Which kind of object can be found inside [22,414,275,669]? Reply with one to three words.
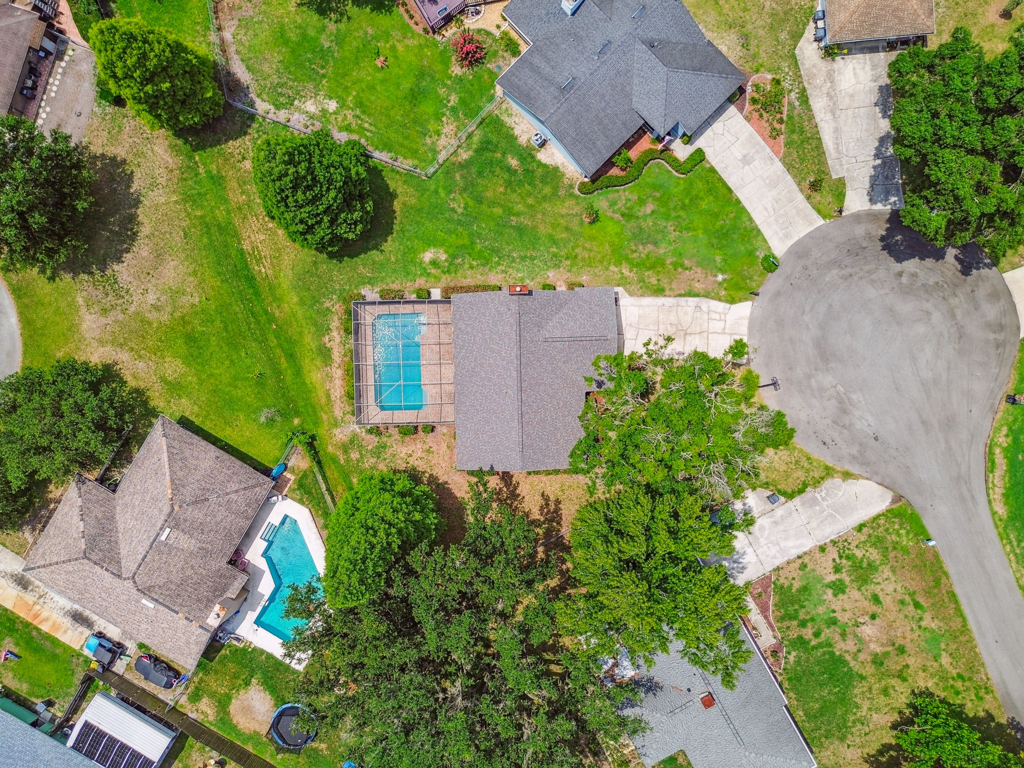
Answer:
house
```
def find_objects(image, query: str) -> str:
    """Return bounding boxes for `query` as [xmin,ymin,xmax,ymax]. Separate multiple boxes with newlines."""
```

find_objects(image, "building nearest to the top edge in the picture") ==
[817,0,940,52]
